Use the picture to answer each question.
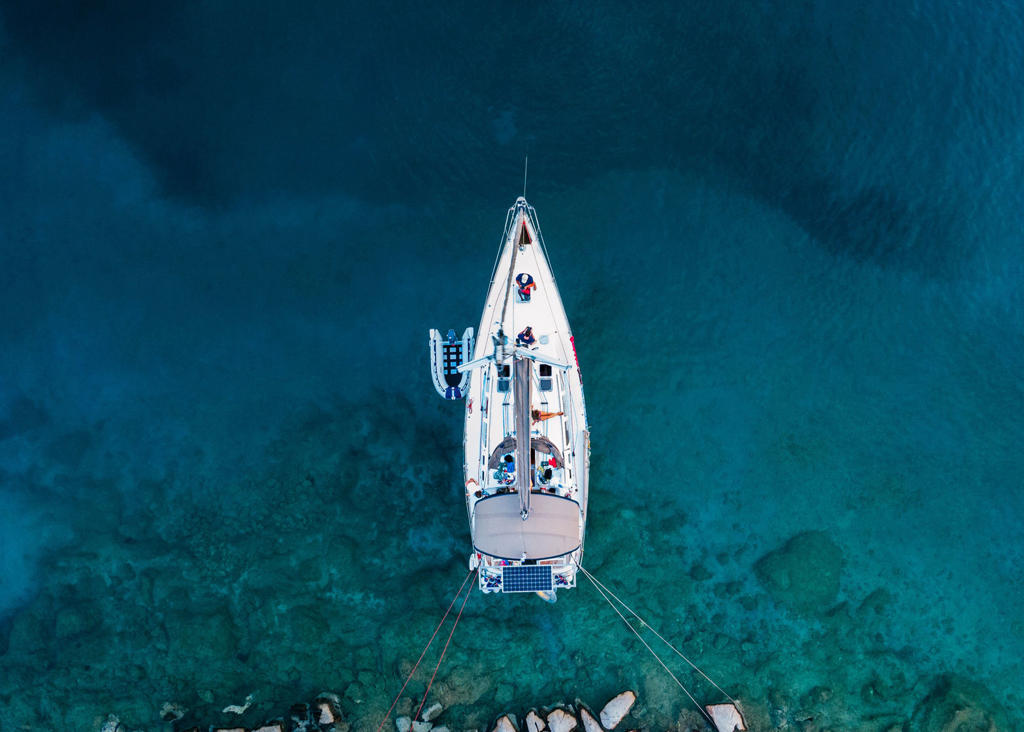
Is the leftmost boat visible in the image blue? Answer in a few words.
Yes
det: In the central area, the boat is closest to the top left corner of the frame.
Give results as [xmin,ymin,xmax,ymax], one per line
[429,328,475,399]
